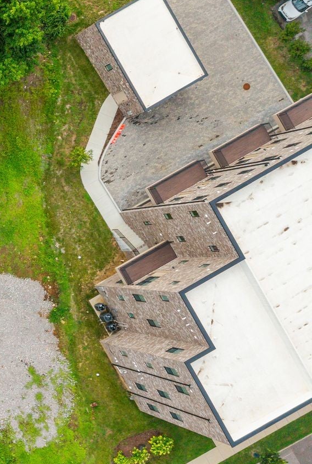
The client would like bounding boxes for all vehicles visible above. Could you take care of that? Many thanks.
[270,0,312,29]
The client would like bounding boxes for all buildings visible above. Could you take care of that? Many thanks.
[76,0,209,118]
[96,87,312,448]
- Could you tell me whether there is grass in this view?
Yes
